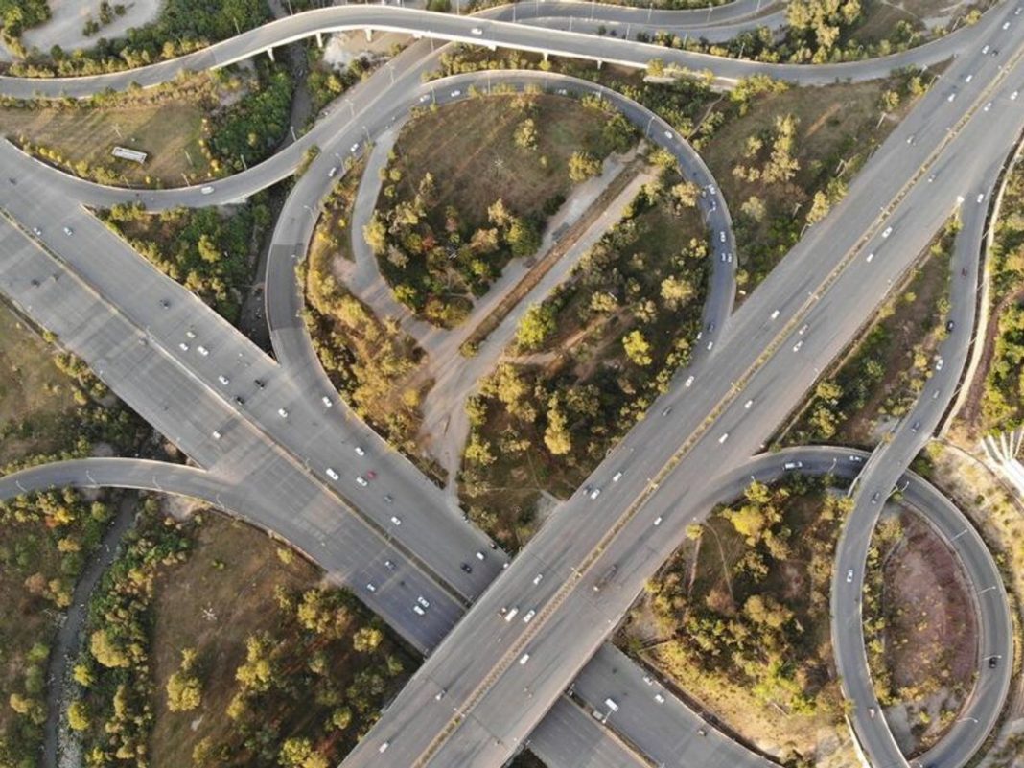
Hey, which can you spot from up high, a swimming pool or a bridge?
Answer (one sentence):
This aerial view contains a bridge.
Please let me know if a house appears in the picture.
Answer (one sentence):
No, I can't see a single house in this photo.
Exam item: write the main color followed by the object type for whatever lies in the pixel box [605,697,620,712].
white vehicle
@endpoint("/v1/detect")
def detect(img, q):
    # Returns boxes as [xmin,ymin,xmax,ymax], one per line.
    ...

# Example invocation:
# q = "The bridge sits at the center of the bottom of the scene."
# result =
[380,552,638,749]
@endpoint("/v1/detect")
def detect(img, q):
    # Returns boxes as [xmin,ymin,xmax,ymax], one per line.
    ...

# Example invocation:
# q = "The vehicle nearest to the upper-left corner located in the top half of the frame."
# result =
[114,146,143,160]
